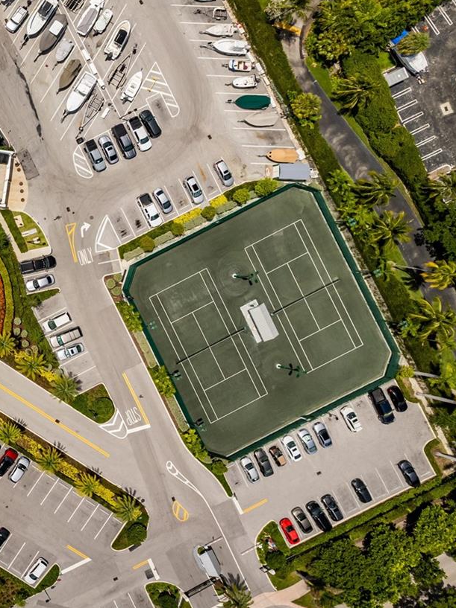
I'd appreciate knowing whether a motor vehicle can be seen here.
Yes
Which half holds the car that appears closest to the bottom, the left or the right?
left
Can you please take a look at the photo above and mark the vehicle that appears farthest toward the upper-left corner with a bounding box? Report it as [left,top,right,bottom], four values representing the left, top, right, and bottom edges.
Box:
[6,5,27,33]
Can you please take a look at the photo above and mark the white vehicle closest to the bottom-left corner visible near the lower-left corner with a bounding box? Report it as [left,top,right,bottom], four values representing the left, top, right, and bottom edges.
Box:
[26,556,48,586]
